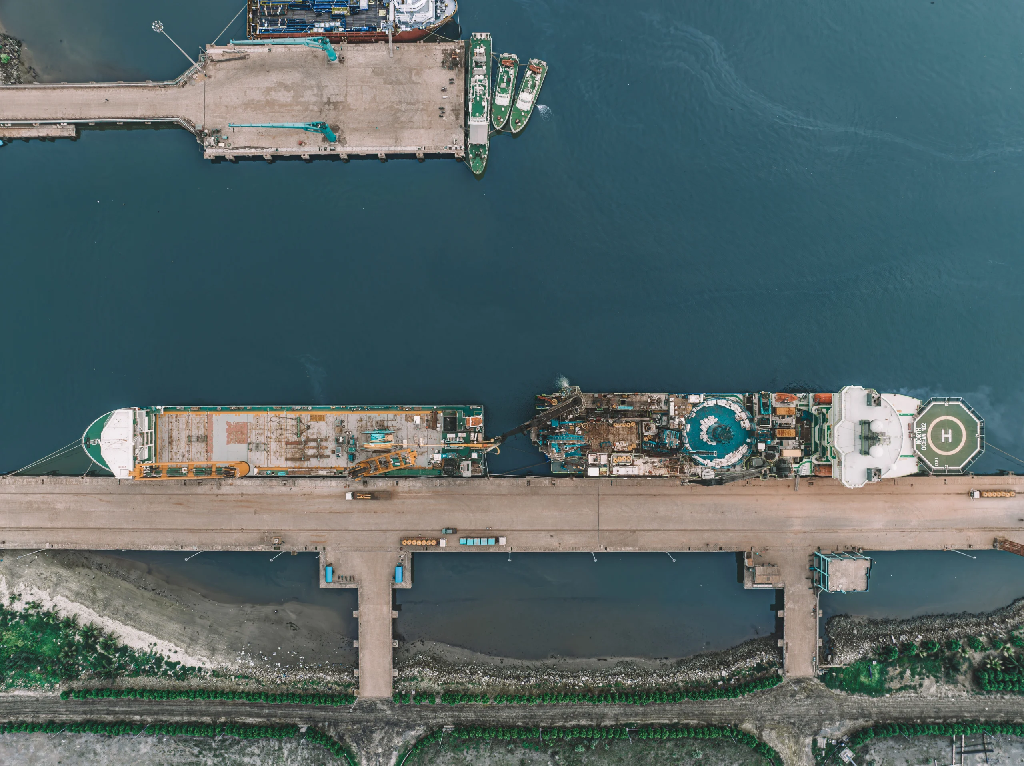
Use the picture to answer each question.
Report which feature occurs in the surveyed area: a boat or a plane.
boat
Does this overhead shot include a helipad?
Yes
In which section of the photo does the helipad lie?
right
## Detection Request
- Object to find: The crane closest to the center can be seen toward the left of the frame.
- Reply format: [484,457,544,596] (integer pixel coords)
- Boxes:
[350,449,418,480]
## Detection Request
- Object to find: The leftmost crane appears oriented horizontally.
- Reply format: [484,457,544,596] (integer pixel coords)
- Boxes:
[128,460,256,480]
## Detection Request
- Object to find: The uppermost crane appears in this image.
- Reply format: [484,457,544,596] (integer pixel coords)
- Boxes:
[230,32,339,64]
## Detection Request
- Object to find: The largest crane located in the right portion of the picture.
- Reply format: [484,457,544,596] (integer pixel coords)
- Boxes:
[681,457,797,486]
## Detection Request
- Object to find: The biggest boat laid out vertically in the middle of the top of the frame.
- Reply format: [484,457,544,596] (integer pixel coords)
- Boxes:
[468,32,492,175]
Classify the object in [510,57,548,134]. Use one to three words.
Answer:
boat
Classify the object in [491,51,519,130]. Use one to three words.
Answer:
boat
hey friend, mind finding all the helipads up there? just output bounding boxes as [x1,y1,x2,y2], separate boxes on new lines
[913,397,985,474]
